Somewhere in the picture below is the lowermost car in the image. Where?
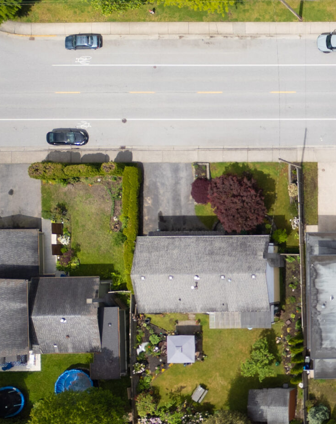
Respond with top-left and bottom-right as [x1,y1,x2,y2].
[46,129,91,147]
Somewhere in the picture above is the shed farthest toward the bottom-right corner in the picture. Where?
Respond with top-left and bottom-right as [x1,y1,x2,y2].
[246,388,294,424]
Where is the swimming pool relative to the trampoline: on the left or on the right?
to the right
